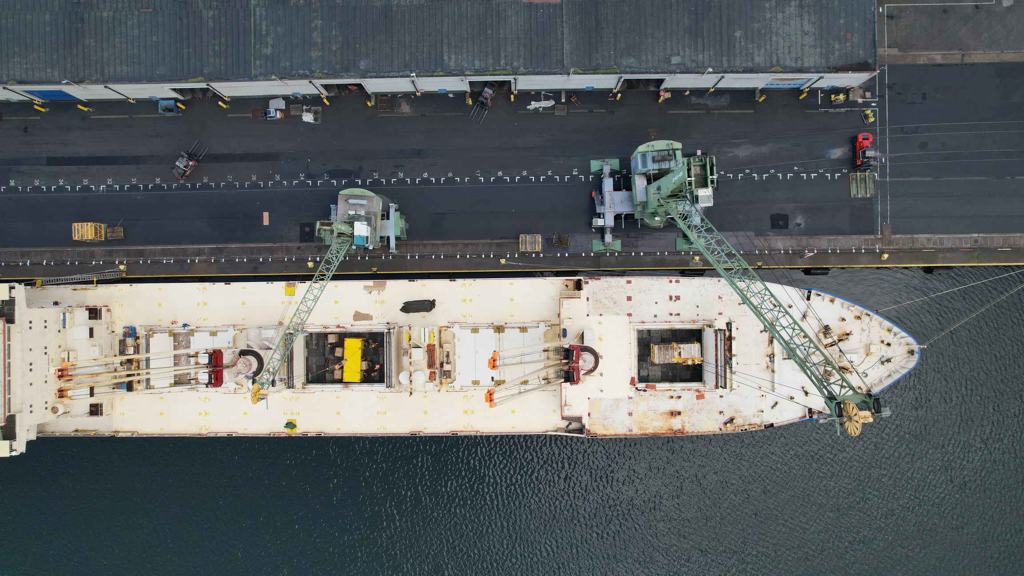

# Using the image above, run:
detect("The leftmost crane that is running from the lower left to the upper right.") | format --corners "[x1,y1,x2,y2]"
[244,188,407,409]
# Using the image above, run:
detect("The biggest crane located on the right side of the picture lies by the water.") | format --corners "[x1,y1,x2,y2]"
[590,141,897,437]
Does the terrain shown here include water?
Yes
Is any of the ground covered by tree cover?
No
